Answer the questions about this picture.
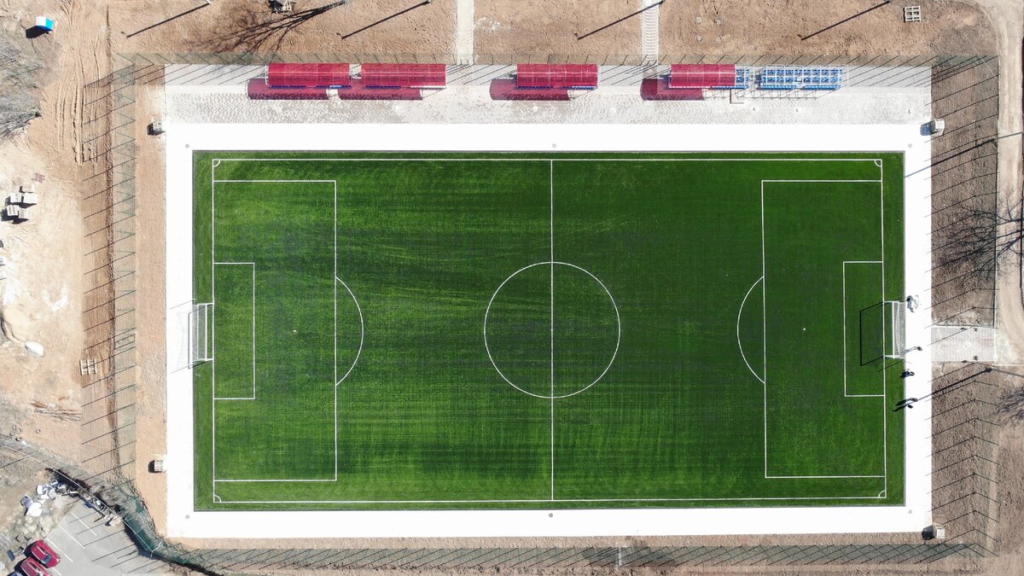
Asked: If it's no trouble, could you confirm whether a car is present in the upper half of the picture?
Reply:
No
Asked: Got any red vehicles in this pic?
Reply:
Yes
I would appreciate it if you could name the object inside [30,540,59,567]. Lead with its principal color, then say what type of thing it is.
red car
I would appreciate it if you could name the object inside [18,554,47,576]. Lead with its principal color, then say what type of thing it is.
red car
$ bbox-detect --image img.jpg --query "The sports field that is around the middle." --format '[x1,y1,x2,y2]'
[193,151,906,512]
